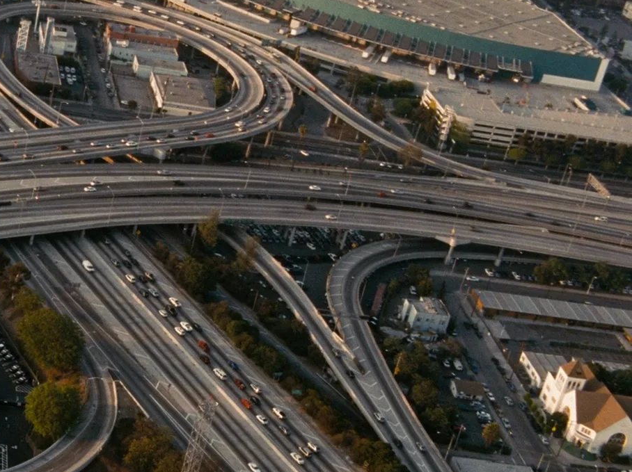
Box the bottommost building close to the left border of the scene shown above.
[14,52,61,96]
